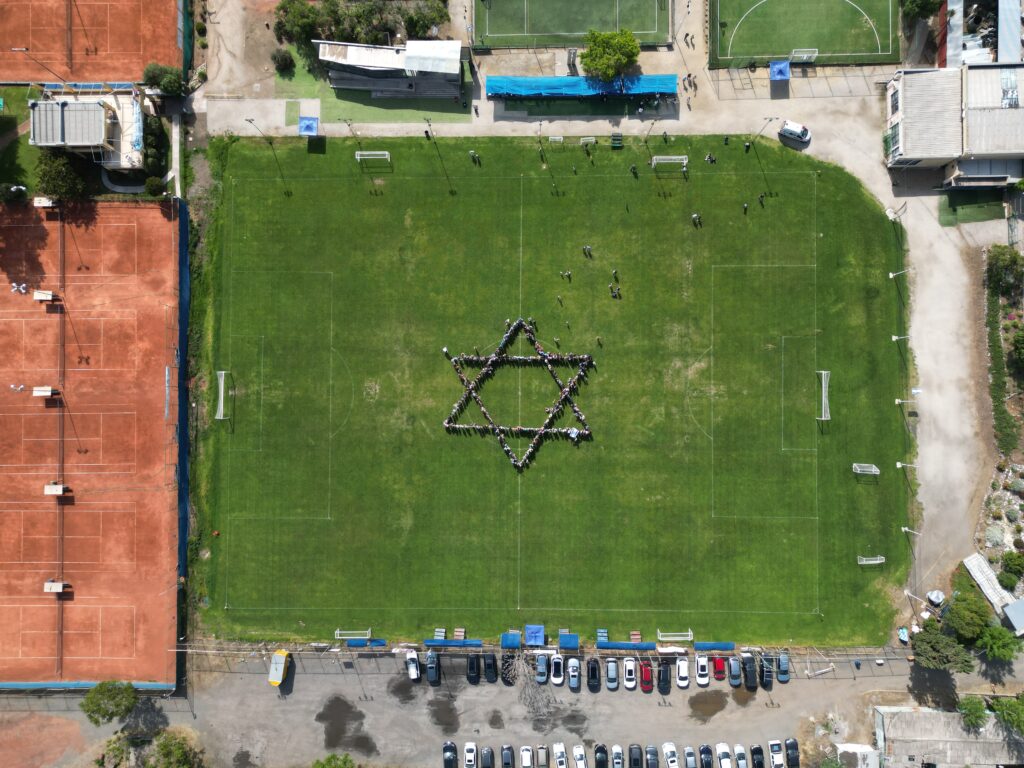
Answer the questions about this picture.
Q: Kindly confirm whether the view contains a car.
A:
Yes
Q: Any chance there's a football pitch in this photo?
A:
Yes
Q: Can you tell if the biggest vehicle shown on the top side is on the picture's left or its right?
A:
right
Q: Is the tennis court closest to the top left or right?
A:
left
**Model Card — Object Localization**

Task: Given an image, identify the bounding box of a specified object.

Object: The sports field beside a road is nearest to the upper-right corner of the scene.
[710,0,899,67]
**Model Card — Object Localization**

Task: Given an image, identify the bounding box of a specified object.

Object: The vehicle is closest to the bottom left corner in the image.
[265,650,288,689]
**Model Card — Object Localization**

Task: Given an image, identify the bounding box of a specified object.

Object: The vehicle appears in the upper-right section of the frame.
[780,117,814,142]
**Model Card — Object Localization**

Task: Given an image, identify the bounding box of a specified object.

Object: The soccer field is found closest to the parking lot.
[199,133,915,645]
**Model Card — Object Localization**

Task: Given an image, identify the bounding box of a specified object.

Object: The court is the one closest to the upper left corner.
[0,0,190,86]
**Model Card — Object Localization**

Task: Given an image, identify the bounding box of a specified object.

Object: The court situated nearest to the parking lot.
[0,581,179,685]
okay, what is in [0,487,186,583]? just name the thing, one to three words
tennis court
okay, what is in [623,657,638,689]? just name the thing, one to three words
car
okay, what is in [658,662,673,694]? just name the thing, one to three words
car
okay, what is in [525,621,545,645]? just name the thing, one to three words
gazebo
